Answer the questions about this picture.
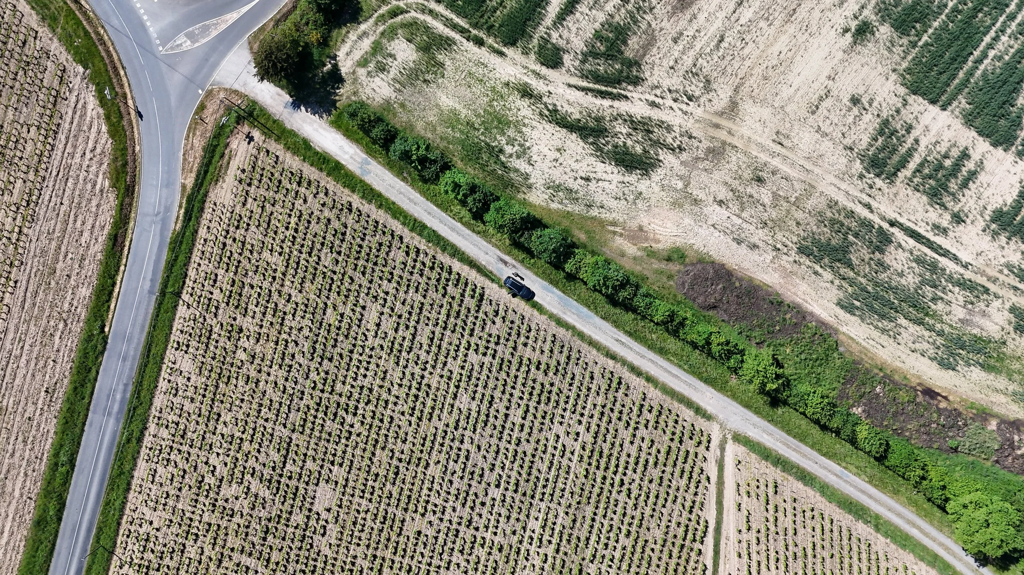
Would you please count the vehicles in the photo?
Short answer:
1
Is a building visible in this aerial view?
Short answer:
No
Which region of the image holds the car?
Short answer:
center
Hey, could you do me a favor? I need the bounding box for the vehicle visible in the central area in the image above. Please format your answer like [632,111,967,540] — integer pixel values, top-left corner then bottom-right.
[502,275,537,302]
